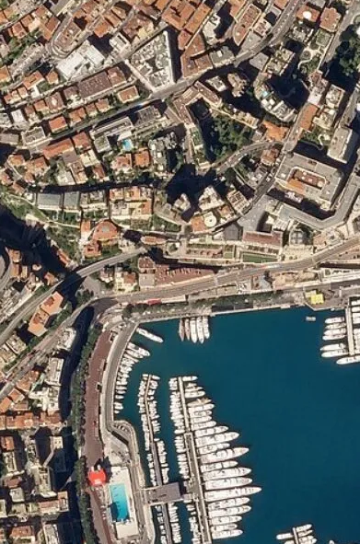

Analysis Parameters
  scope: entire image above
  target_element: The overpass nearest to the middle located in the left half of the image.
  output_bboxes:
[0,245,150,339]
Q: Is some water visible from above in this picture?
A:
Yes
